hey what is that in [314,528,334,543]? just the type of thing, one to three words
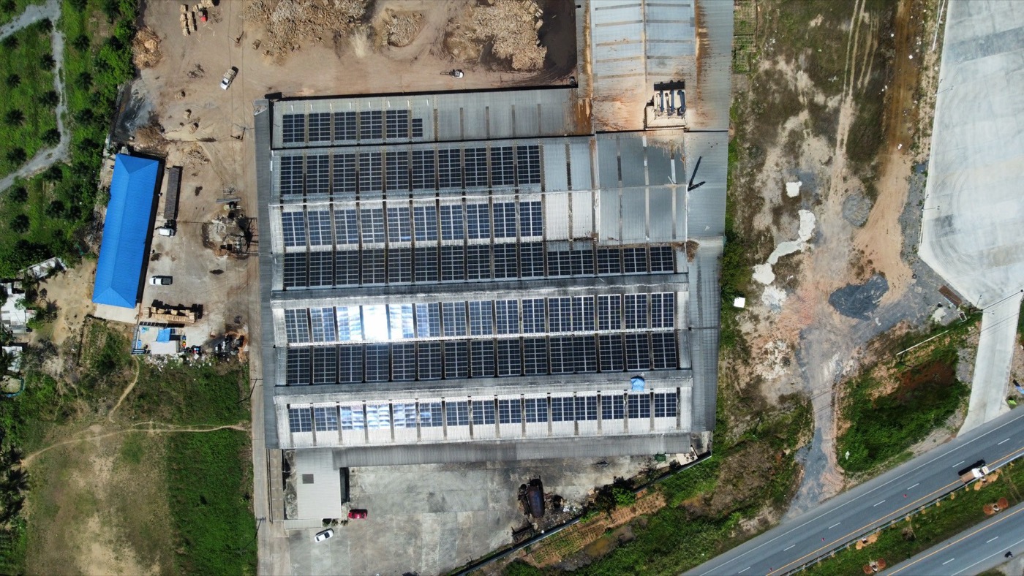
car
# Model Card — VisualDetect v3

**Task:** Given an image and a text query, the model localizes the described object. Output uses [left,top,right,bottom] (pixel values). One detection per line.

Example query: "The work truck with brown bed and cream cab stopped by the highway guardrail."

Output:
[957,465,989,487]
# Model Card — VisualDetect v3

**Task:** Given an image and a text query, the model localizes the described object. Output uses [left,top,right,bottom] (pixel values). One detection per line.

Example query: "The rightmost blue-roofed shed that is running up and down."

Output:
[92,153,166,309]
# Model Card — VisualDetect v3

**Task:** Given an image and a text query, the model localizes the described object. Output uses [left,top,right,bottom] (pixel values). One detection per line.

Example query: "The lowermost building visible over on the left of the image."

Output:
[284,447,345,530]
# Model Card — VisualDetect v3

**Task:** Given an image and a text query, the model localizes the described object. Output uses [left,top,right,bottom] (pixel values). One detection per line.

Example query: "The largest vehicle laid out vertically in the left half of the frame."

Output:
[157,159,182,232]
